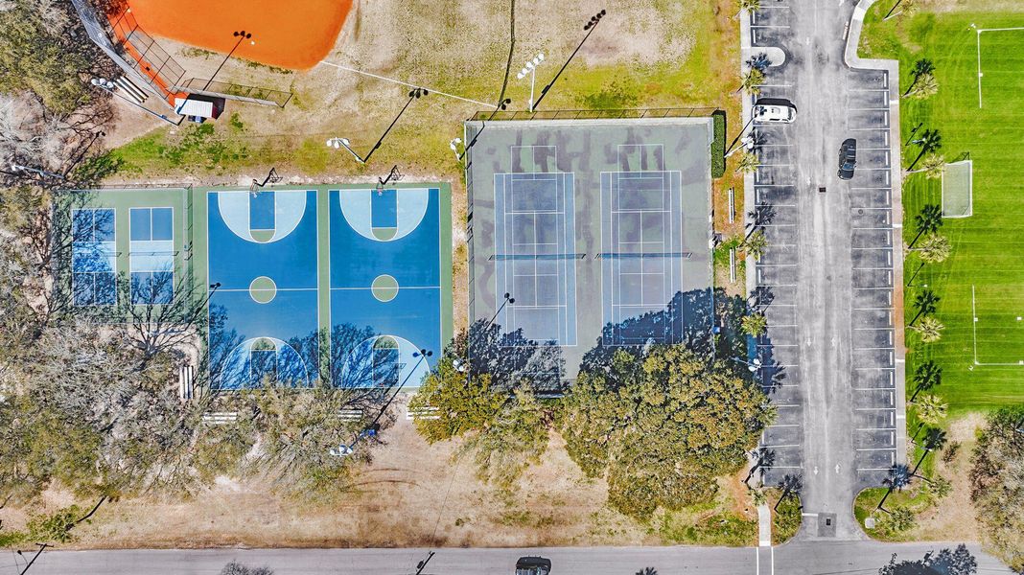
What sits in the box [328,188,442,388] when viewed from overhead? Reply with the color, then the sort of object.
blue basketball court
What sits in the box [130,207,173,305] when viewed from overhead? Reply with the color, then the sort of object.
blue sports court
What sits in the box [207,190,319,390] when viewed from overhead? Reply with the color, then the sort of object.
blue basketball court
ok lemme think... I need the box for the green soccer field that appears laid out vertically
[937,22,1024,371]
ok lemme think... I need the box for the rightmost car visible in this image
[836,145,855,181]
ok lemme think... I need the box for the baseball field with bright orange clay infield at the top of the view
[101,0,498,107]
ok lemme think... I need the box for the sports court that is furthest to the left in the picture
[72,208,116,305]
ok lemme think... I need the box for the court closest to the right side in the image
[600,145,683,373]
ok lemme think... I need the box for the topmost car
[754,104,794,123]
